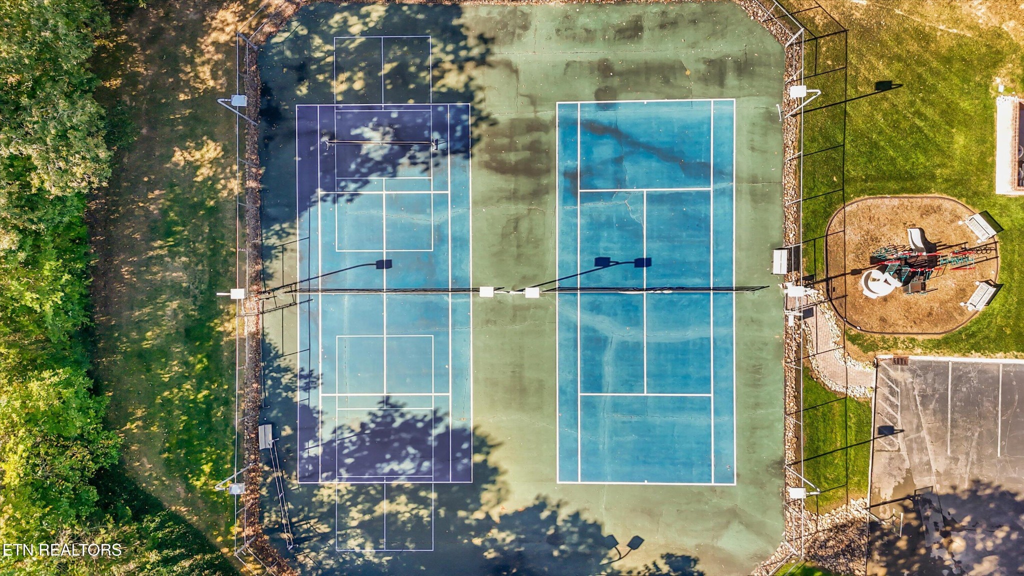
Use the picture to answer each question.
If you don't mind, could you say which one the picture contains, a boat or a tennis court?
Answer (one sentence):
The image shows a tennis court.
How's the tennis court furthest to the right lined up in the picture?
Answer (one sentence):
I'd say the tennis court furthest to the right is aligned up and down in the picture.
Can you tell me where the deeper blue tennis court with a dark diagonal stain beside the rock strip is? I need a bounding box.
[556,99,737,486]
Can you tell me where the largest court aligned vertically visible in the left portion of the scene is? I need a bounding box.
[297,103,473,483]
